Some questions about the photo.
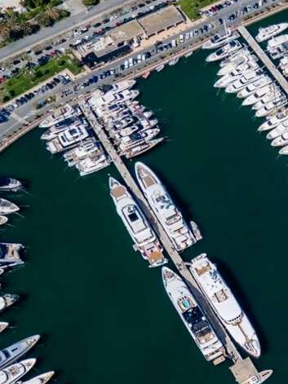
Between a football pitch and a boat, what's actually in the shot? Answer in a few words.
boat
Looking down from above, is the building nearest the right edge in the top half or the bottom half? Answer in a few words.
top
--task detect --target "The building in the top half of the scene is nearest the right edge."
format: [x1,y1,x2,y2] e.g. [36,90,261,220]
[138,3,188,40]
